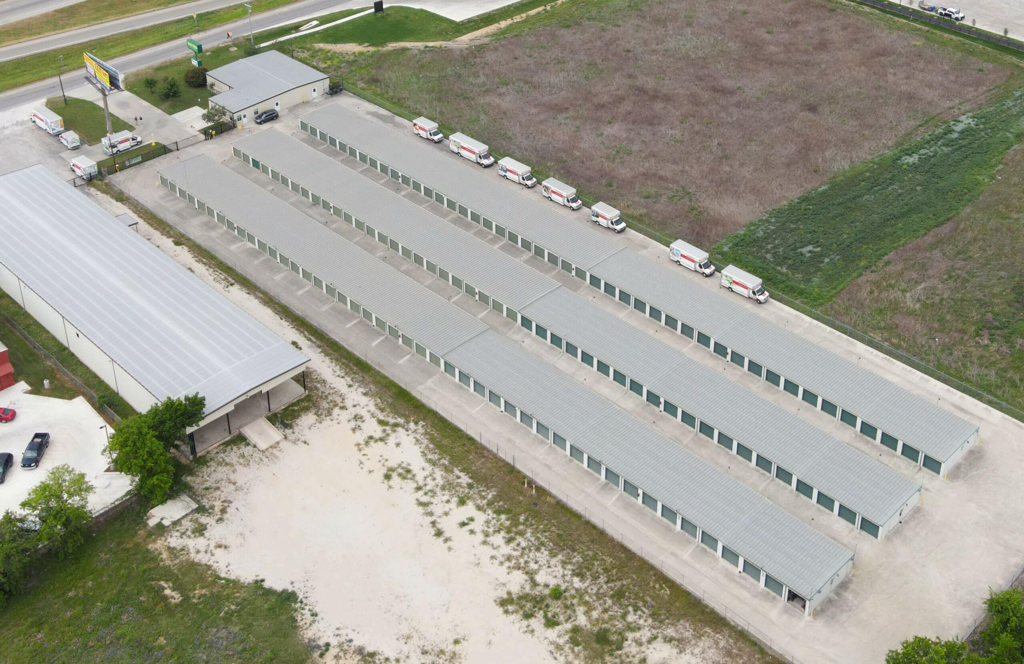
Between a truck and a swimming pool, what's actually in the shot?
truck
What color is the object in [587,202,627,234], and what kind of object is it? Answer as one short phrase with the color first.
white truck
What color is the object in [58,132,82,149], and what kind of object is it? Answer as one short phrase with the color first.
white vehicle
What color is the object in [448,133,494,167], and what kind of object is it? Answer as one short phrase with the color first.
white truck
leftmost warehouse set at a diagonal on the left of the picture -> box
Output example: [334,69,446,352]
[0,165,313,456]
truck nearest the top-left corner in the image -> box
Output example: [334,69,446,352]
[31,105,64,134]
